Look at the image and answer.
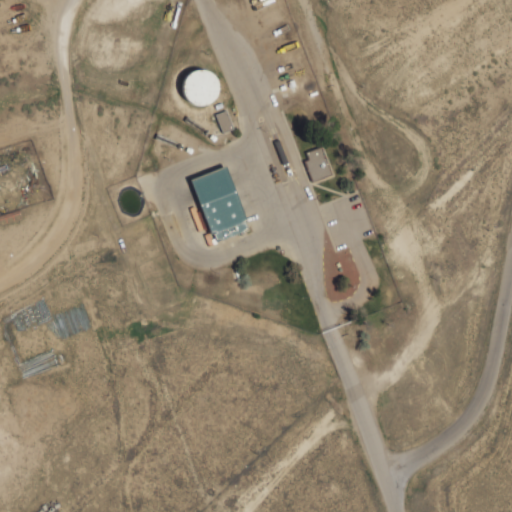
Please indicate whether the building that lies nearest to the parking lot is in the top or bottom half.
top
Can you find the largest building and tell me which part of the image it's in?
center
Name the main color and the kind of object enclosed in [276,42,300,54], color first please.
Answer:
yellow vehicle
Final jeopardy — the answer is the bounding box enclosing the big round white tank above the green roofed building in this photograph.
[183,68,221,107]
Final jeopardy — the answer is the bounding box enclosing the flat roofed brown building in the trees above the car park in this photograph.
[306,146,334,182]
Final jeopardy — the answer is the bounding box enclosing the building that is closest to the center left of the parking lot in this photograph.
[191,166,246,238]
